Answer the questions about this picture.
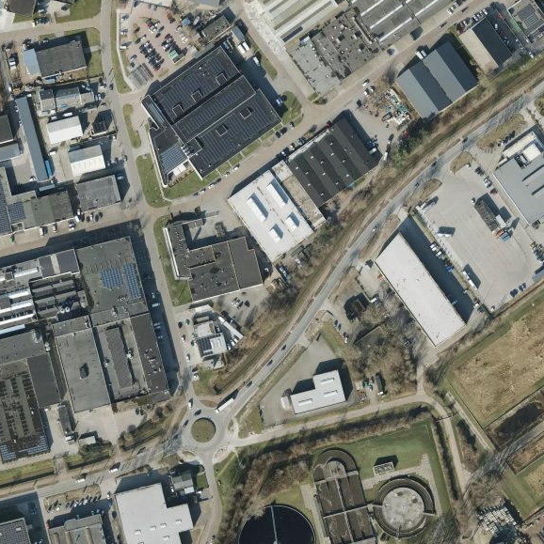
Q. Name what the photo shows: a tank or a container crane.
tank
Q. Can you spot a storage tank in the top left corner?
No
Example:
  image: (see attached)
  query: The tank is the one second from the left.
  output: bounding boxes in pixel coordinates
[313,449,376,544]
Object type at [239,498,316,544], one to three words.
storage tank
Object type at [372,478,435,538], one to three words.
storage tank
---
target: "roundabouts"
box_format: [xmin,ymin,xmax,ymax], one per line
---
[181,408,226,452]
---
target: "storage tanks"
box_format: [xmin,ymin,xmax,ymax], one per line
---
[313,449,376,544]
[239,498,316,544]
[372,478,435,538]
